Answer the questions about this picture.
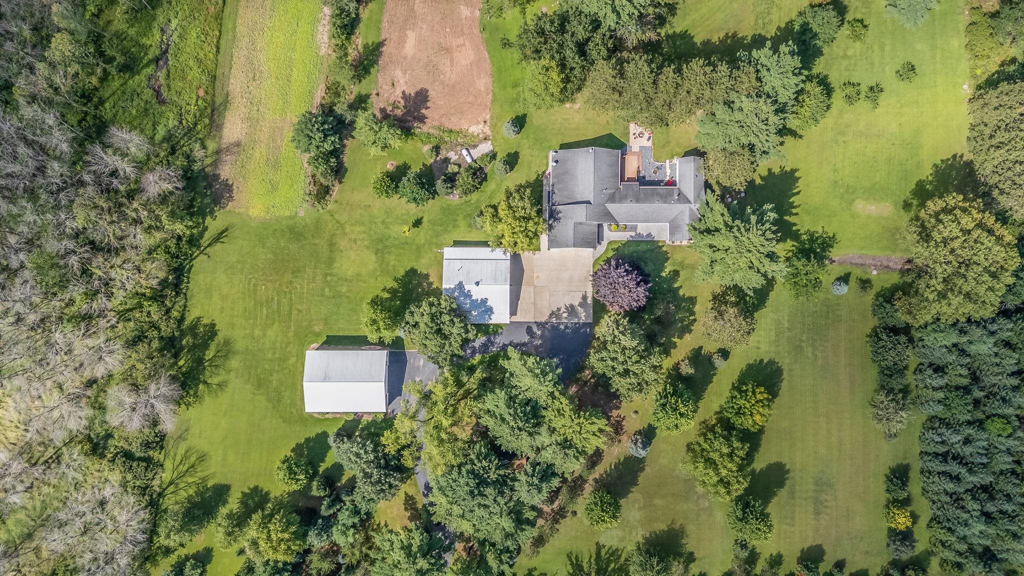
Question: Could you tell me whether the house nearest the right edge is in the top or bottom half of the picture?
top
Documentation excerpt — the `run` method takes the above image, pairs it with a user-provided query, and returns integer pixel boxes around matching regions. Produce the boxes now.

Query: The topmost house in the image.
[547,147,704,248]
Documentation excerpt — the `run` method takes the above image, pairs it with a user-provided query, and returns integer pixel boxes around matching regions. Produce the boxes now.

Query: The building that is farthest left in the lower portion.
[302,349,391,412]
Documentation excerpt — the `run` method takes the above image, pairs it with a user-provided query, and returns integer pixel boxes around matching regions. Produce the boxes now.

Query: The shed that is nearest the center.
[439,248,511,323]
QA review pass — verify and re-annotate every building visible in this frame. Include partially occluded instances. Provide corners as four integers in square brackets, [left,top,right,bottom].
[302,349,391,412]
[439,248,511,323]
[547,147,704,248]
